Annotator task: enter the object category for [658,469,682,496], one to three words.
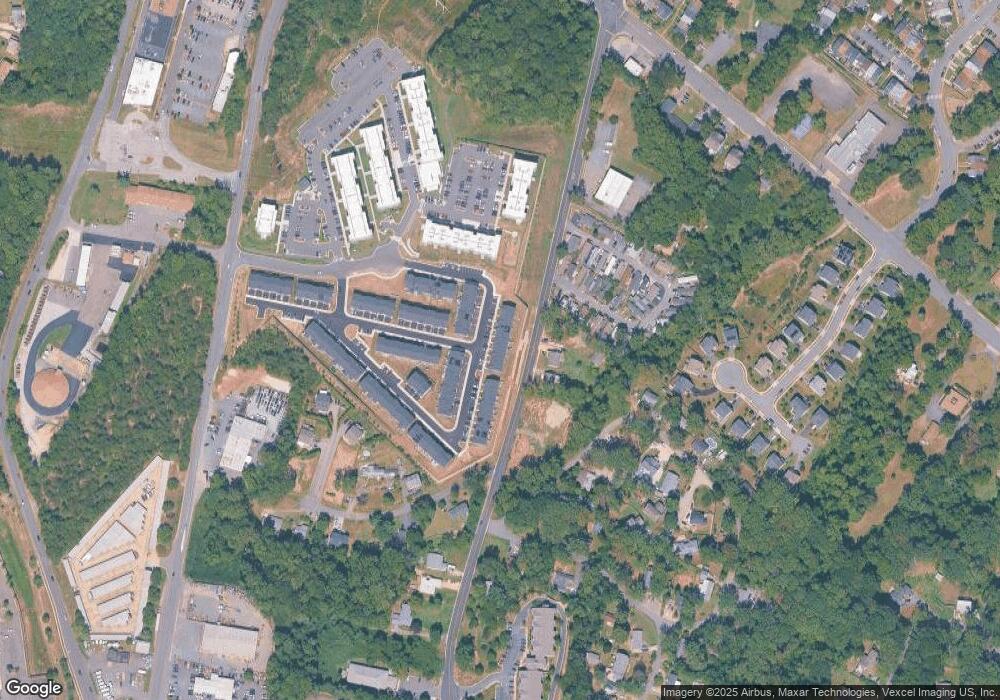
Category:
house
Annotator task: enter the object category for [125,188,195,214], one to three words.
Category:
shed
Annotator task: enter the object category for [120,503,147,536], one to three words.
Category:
building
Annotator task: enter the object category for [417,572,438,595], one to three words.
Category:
house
